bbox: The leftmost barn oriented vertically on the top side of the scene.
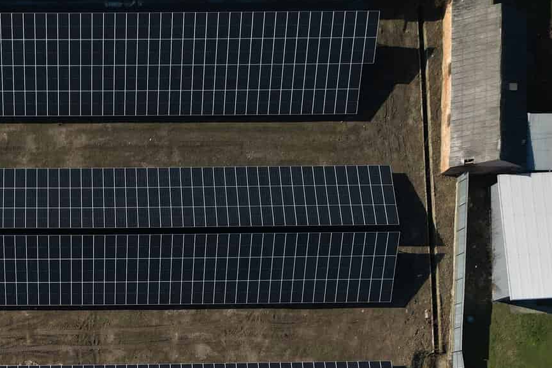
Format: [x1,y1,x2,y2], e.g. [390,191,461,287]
[440,1,525,177]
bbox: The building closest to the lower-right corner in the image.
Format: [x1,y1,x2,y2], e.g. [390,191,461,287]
[480,172,552,306]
